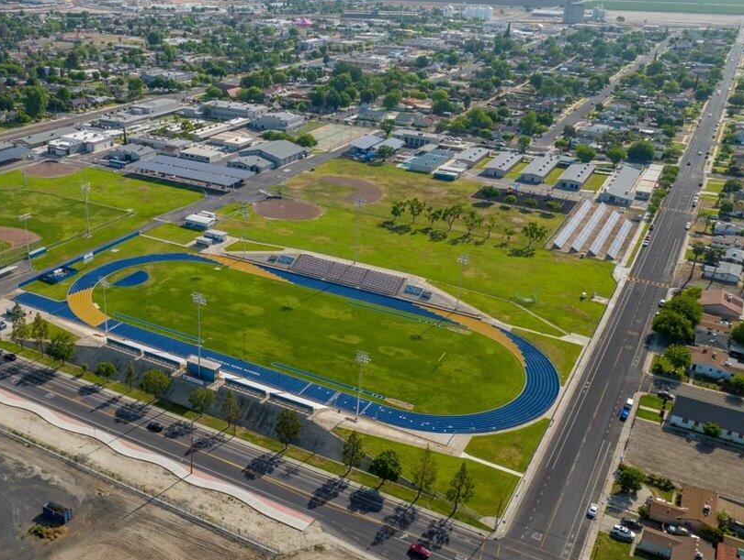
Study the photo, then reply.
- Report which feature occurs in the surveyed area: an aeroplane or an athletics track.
athletics track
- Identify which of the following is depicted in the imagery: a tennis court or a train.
tennis court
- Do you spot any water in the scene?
No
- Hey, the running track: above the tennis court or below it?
below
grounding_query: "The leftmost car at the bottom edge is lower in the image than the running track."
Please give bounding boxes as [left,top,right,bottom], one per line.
[406,541,431,559]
